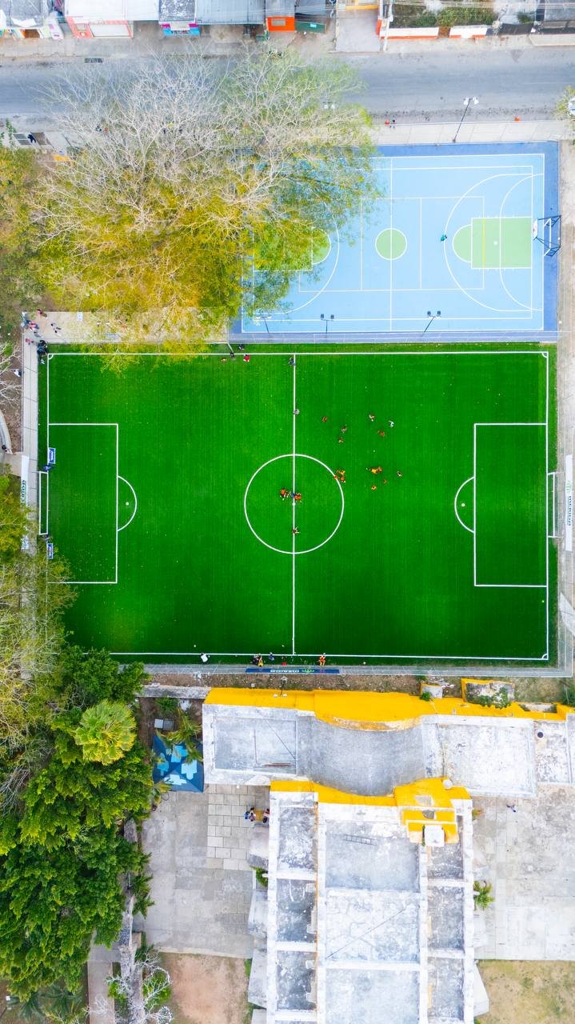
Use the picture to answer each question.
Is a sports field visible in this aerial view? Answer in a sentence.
Yes, a sports field is visible in the scene.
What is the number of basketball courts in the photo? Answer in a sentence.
Only 1 basketball court is visible.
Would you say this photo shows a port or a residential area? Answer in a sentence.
This looks like a residential area.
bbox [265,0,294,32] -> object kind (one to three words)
house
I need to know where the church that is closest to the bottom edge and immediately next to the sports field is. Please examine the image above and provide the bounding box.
[204,677,575,1024]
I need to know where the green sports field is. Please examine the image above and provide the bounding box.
[38,344,557,663]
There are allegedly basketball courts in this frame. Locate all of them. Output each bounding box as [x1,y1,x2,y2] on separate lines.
[232,142,558,343]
